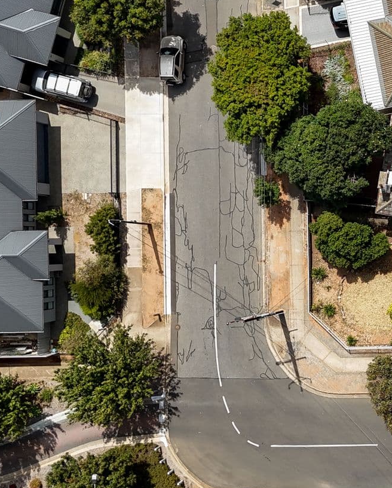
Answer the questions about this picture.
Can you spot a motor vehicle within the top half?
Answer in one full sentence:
Yes, looking within the top half, one can make out a motor vehicle.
